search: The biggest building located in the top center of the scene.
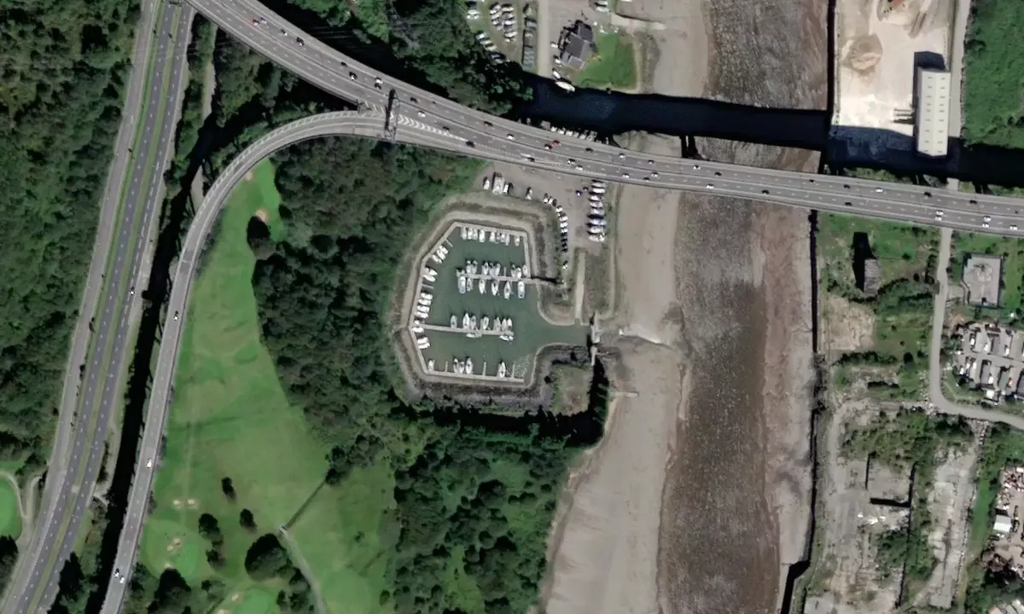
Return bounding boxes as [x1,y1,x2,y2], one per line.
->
[556,23,595,71]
